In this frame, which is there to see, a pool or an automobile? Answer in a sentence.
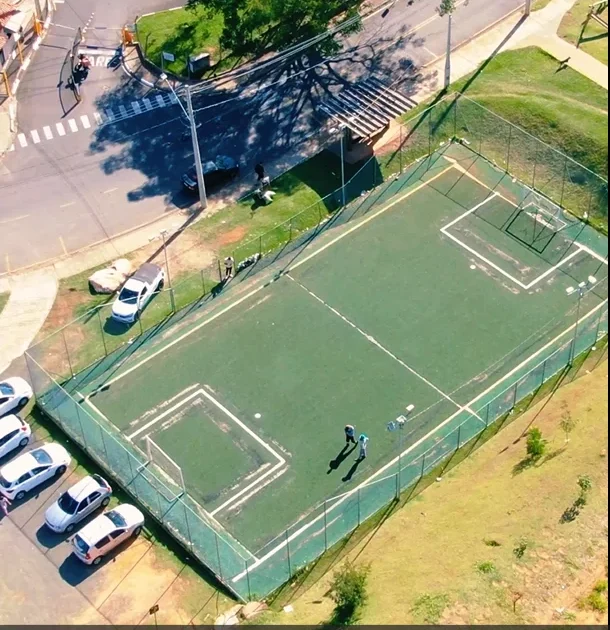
It is an automobile that can be seen here.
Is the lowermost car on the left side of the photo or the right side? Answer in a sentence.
You can find the lowermost car on the left side of the picture.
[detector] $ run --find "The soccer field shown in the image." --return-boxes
[34,137,610,616]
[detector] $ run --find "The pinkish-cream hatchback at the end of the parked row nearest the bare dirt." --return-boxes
[71,503,143,562]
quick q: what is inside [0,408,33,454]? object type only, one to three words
car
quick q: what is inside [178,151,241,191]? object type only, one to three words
car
